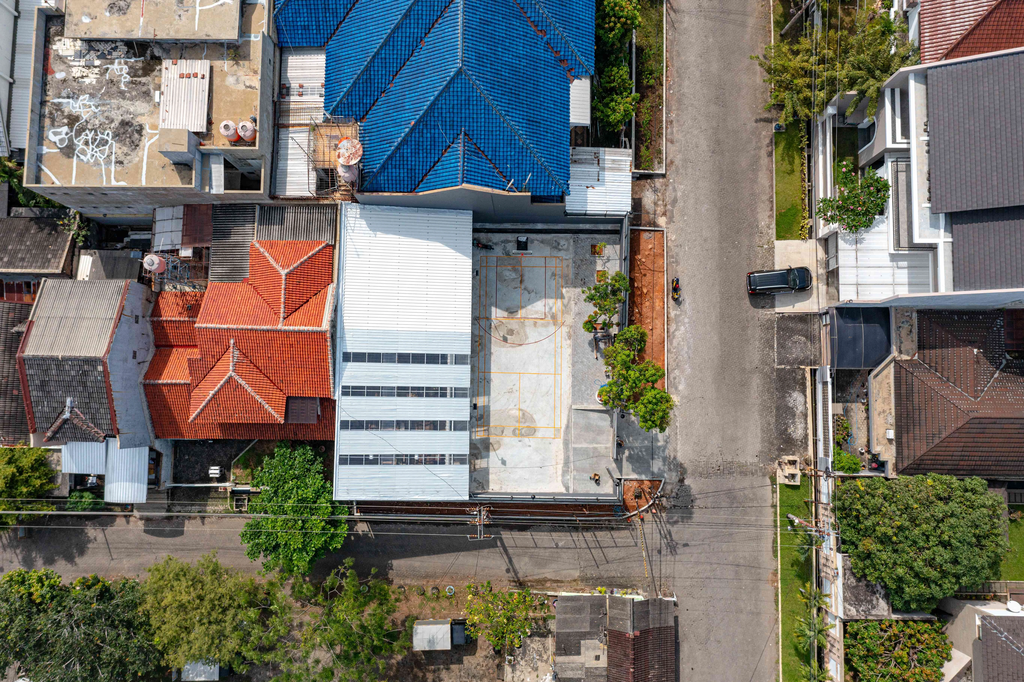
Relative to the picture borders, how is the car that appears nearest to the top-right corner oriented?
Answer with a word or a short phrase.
from side to side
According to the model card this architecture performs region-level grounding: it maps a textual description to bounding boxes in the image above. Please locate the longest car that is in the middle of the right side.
[750,263,814,296]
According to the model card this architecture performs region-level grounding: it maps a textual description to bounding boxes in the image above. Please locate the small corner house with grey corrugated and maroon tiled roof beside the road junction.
[555,580,675,682]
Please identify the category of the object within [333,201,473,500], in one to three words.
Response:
building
